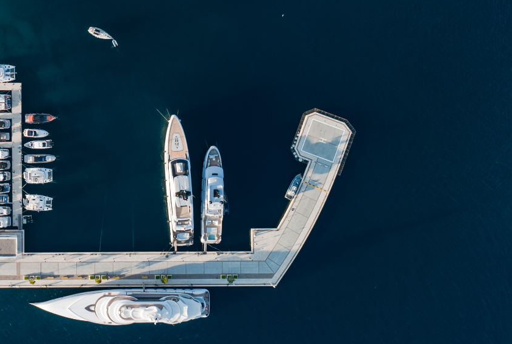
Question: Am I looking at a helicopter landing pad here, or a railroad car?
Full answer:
It is a helicopter landing pad that can be seen here.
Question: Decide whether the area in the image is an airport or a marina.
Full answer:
The picture captures a marina.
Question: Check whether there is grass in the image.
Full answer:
No, there's no grass in this view.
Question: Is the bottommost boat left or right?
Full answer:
The bottommost boat sits on the left side.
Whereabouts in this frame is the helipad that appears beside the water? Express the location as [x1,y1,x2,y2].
[290,107,357,176]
